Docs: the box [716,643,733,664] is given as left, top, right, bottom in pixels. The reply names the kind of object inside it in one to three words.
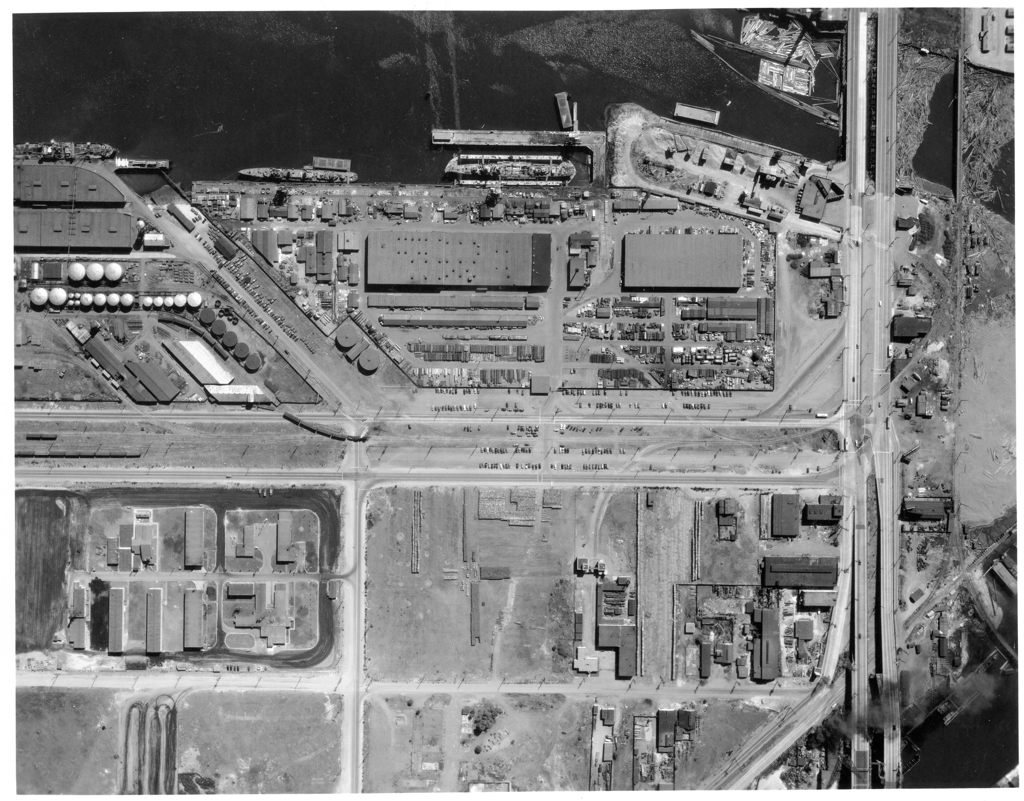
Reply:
shed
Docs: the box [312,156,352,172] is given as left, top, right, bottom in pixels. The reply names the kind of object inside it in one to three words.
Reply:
ship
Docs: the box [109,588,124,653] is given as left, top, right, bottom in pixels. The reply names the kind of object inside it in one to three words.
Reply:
building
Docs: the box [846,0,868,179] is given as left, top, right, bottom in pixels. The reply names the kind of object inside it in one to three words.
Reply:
bridge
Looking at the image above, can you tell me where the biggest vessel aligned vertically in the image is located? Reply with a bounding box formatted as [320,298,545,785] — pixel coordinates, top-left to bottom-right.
[555,91,572,129]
